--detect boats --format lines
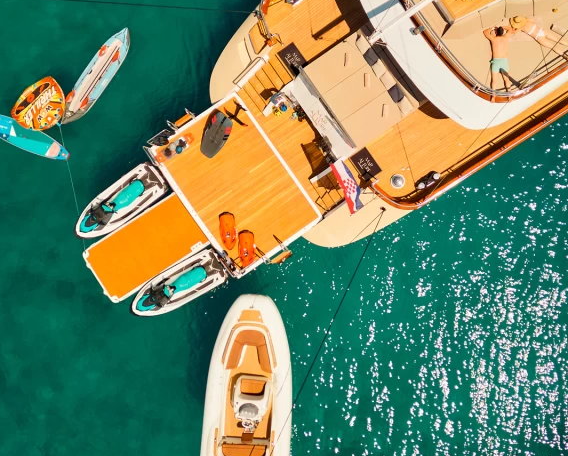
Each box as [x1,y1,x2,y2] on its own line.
[138,245,229,311]
[83,159,170,232]
[197,295,292,456]
[138,0,568,279]
[66,28,130,124]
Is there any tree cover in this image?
No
